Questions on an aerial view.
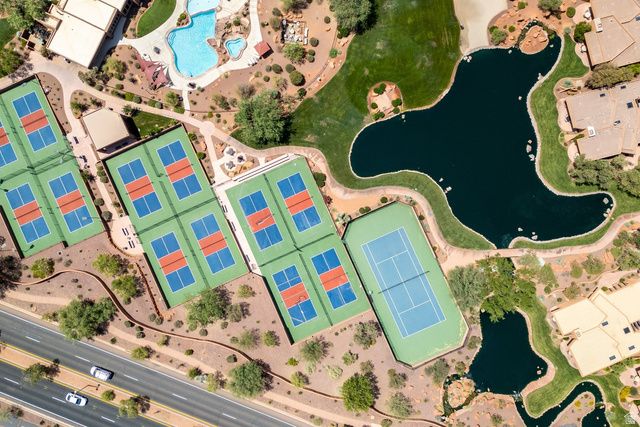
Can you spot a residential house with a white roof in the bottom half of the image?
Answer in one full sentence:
Yes, a residential house with a white roof appears in the bottom half of the image.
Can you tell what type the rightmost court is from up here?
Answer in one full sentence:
What you see as the rightmost court is a tennis court.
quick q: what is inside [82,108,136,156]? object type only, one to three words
building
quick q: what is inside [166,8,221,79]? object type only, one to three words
swimming pool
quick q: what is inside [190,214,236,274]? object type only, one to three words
sports court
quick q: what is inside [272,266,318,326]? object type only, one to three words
sports court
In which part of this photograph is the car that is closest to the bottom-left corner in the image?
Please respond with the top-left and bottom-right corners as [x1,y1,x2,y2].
[66,391,89,406]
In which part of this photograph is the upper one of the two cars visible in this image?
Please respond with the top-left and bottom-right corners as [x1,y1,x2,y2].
[91,366,112,381]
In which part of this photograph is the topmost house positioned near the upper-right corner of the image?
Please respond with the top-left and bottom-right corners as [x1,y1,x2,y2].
[583,0,640,68]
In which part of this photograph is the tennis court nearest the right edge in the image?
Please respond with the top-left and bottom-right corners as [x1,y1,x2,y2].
[344,203,468,366]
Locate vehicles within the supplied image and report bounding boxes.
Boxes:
[66,391,89,406]
[91,366,112,381]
